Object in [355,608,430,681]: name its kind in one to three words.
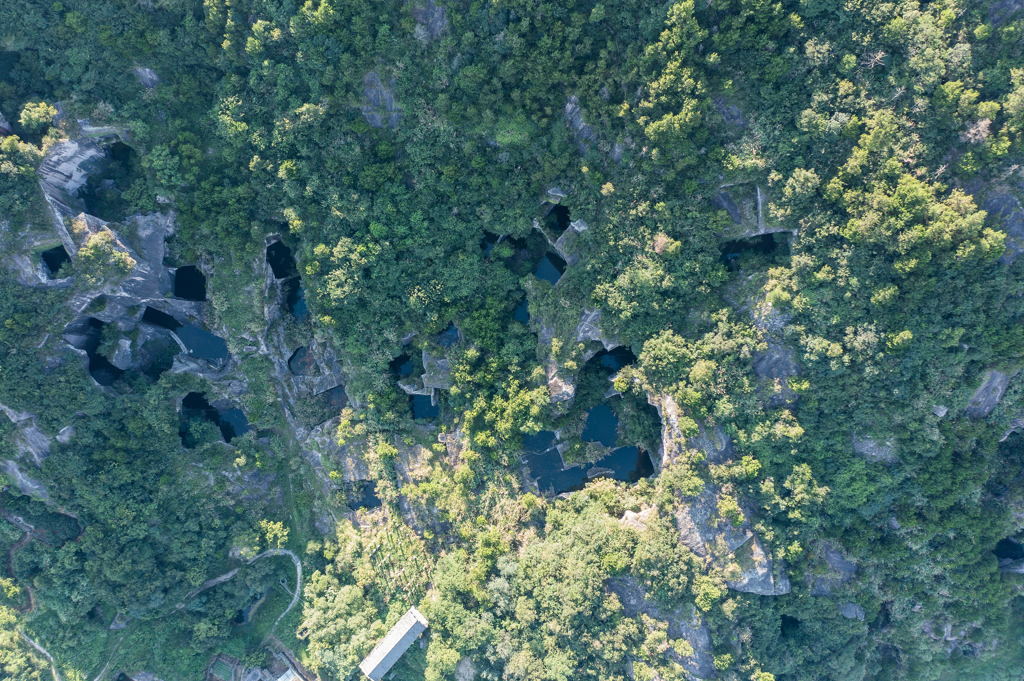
shed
